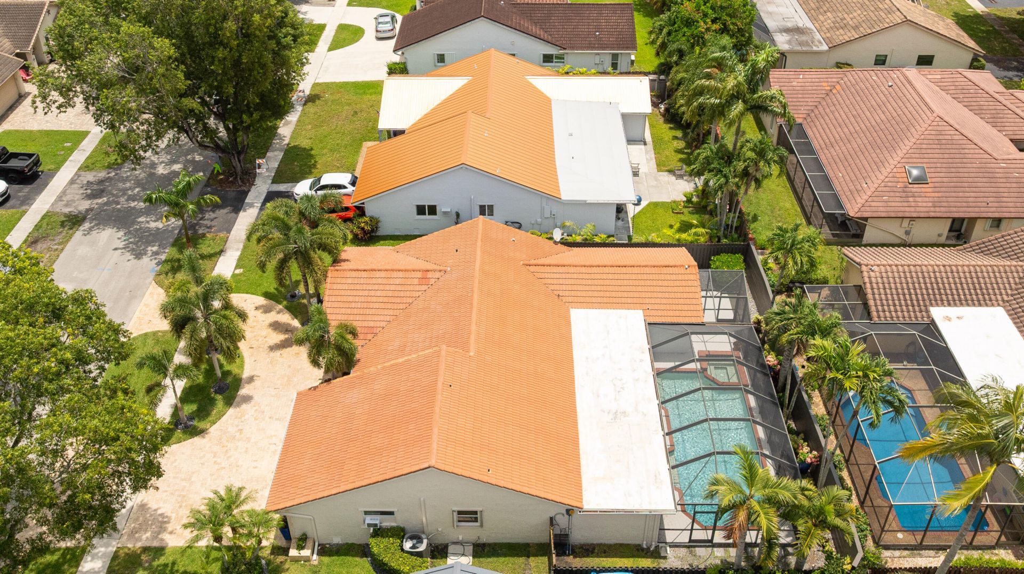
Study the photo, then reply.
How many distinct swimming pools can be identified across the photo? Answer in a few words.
2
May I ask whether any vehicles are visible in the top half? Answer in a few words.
Yes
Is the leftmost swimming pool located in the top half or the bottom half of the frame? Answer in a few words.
bottom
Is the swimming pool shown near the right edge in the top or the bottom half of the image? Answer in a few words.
bottom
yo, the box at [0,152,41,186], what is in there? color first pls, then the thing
black truck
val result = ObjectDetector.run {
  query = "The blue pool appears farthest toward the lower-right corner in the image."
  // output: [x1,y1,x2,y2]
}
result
[836,379,993,539]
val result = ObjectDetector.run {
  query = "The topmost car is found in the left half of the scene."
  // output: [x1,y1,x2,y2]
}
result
[377,12,400,34]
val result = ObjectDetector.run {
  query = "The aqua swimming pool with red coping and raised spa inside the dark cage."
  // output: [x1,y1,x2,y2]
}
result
[656,348,779,528]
